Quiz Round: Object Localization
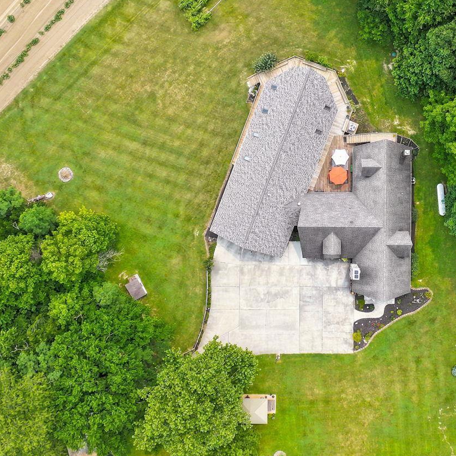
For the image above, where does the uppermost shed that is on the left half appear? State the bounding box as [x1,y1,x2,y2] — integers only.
[123,274,148,300]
